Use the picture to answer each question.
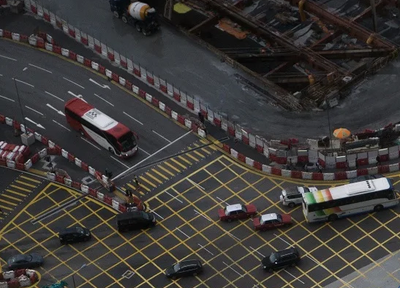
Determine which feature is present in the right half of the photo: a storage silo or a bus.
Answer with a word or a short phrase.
bus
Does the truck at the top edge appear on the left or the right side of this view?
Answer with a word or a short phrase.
left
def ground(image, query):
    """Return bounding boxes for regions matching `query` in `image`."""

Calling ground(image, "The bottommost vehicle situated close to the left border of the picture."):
[8,250,43,268]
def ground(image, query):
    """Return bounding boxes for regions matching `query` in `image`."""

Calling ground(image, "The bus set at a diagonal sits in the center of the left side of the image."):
[65,100,137,156]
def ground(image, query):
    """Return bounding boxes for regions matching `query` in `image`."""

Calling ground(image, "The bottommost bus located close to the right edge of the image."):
[303,177,399,220]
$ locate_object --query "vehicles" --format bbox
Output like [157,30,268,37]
[220,203,255,220]
[254,213,291,230]
[303,177,399,220]
[110,0,161,33]
[166,258,201,277]
[59,227,90,244]
[65,100,137,156]
[282,185,314,205]
[8,250,43,268]
[261,248,298,270]
[116,207,154,231]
